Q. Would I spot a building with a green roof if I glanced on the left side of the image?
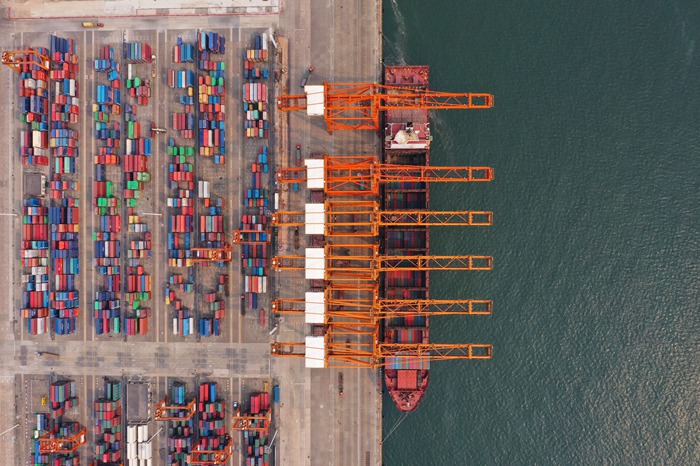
No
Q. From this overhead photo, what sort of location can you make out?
port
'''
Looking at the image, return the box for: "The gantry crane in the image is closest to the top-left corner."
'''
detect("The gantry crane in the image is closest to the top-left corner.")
[1,47,53,74]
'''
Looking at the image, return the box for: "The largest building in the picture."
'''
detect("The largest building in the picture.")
[126,381,151,422]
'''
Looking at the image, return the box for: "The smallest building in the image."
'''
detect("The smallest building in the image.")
[25,174,46,199]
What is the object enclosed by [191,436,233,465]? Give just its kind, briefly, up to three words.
container crane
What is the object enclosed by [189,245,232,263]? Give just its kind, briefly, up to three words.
container crane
